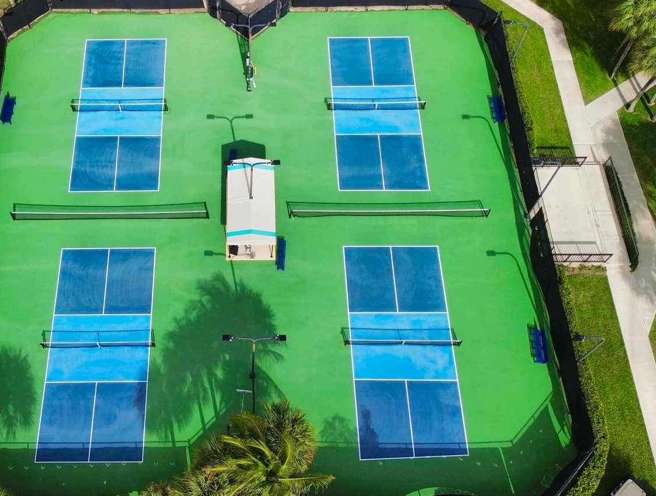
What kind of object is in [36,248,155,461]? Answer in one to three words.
sports court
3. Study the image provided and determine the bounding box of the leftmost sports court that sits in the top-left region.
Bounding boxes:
[69,38,167,191]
